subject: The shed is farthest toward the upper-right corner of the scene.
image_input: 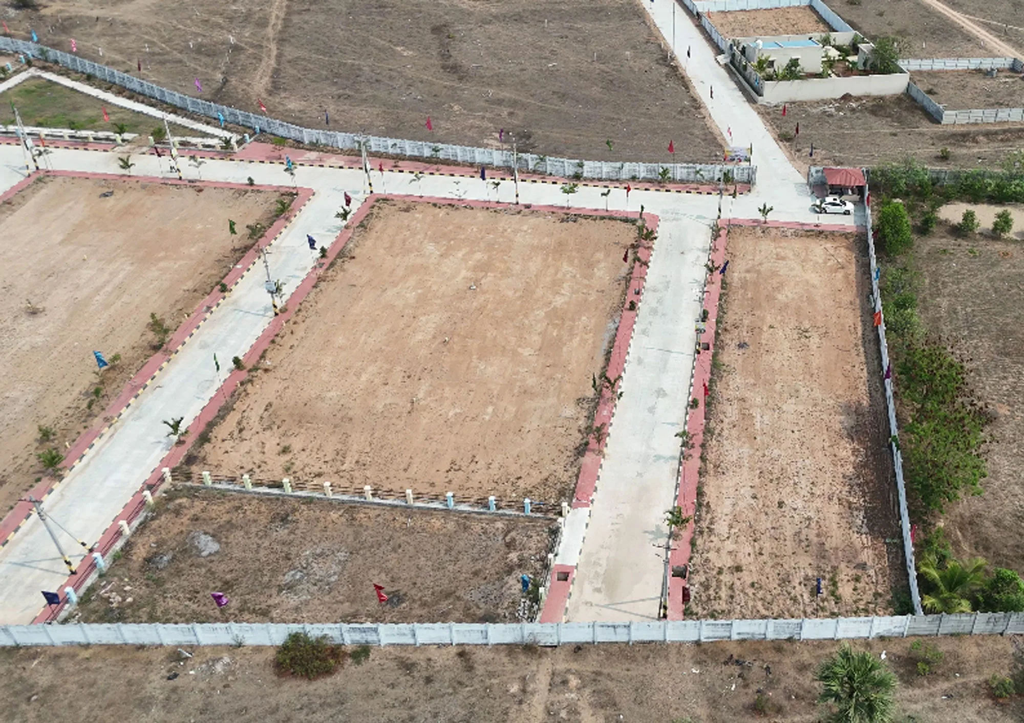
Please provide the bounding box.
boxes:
[856,43,876,72]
